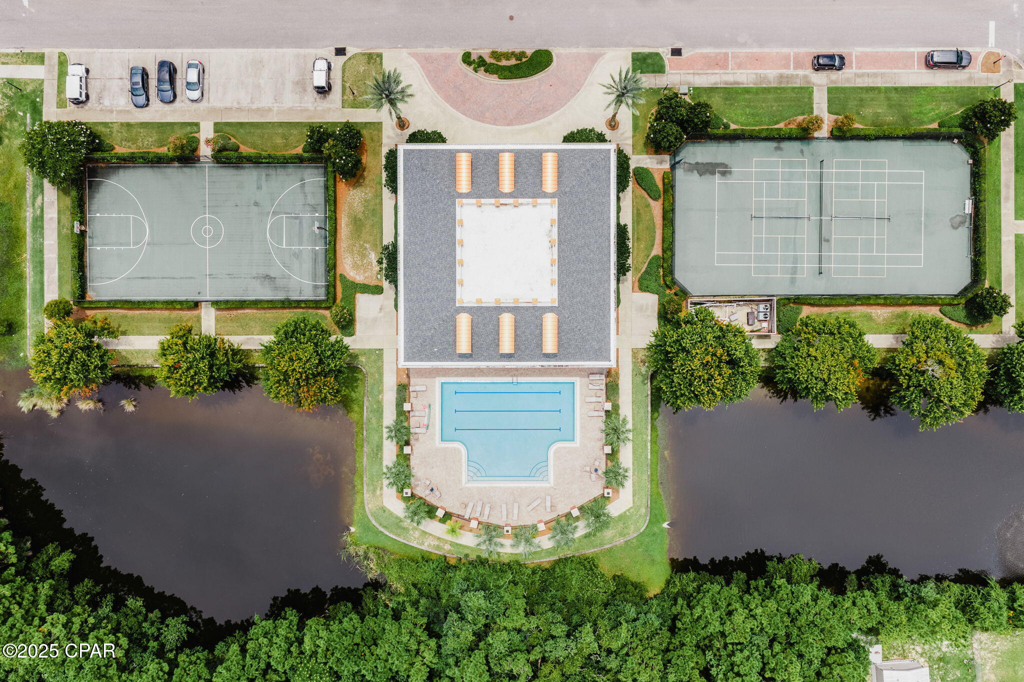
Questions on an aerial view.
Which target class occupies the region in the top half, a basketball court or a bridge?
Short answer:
basketball court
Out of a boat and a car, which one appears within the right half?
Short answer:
car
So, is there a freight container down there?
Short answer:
No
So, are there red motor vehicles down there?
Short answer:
No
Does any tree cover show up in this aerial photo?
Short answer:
Yes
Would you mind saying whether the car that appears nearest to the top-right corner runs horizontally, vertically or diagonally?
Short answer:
horizontally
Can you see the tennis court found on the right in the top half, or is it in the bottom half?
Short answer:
top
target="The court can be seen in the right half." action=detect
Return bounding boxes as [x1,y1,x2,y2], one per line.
[671,140,972,296]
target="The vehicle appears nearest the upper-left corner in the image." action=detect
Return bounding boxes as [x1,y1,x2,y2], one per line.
[66,66,91,105]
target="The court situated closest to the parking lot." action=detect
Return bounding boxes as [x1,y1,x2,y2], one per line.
[85,162,328,301]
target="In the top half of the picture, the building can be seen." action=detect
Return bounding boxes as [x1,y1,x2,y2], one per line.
[397,143,617,368]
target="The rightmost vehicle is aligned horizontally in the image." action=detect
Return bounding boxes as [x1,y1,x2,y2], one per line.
[923,48,969,71]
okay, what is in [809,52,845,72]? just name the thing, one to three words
car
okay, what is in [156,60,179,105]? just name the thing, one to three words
car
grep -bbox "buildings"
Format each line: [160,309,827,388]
[874,660,944,682]
[397,143,617,368]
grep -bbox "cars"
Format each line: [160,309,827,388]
[184,60,206,104]
[156,60,179,105]
[312,59,332,93]
[809,52,845,72]
[923,48,969,71]
[66,66,91,105]
[129,66,152,110]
